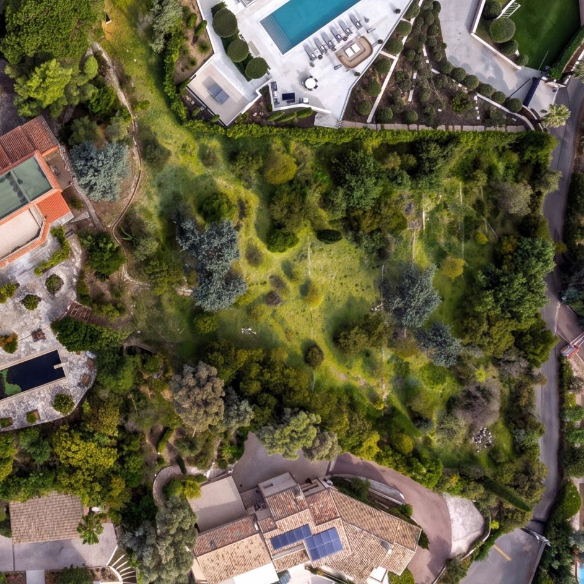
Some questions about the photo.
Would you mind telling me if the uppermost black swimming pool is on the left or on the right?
left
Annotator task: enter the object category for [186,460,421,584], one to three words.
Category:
house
